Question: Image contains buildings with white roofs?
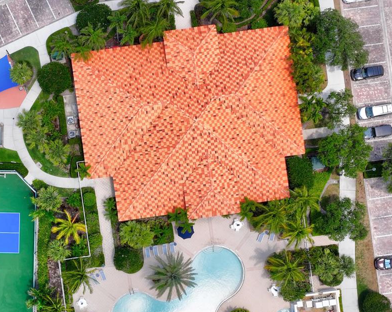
No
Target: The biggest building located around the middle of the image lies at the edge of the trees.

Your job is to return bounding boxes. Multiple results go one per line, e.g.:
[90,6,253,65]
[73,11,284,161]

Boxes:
[71,24,306,222]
